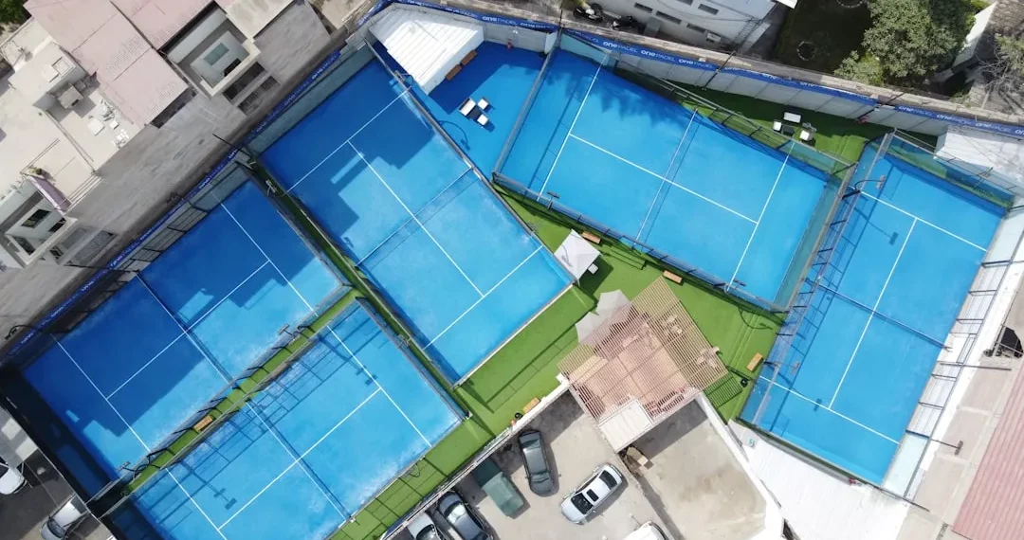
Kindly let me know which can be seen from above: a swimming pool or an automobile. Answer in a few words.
automobile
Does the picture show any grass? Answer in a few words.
Yes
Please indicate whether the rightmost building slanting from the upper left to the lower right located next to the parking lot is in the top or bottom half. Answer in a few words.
bottom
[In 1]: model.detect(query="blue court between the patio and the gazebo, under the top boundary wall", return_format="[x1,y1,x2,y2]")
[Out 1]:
[491,37,856,315]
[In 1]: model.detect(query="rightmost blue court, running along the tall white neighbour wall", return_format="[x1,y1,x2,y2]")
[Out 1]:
[736,130,1024,499]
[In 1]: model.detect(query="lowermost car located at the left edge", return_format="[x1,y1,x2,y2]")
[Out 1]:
[37,489,93,540]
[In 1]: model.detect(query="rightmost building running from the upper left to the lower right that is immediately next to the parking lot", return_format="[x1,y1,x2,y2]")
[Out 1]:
[733,422,901,540]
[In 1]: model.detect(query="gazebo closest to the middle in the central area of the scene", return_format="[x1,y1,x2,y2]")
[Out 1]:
[549,227,603,281]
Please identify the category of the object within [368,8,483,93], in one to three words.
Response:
building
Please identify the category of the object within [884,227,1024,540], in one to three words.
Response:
house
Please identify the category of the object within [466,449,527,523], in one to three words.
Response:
vehicle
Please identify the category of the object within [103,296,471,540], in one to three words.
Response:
sports court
